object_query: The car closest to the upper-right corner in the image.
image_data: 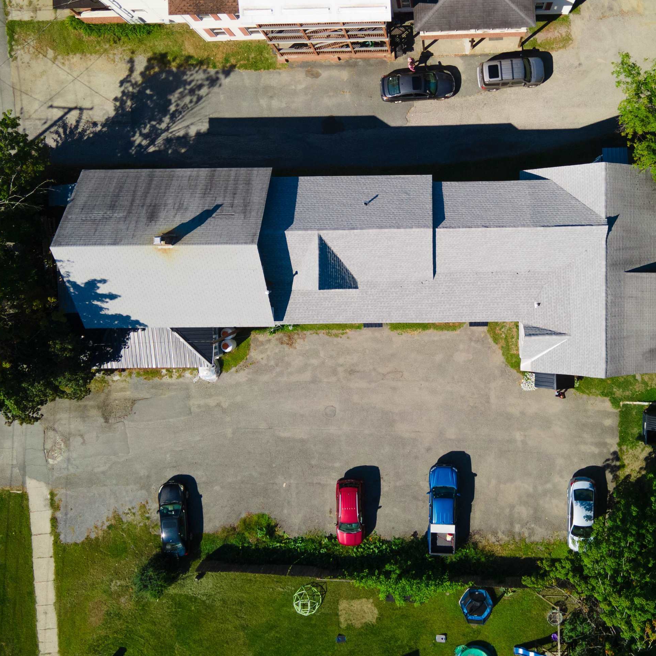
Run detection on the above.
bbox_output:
[475,54,545,93]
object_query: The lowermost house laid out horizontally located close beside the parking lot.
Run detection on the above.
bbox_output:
[52,162,656,379]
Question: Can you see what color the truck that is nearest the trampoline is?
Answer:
blue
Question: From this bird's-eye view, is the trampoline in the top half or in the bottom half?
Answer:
bottom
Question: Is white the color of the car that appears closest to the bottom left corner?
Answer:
No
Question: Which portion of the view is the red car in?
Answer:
bottom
